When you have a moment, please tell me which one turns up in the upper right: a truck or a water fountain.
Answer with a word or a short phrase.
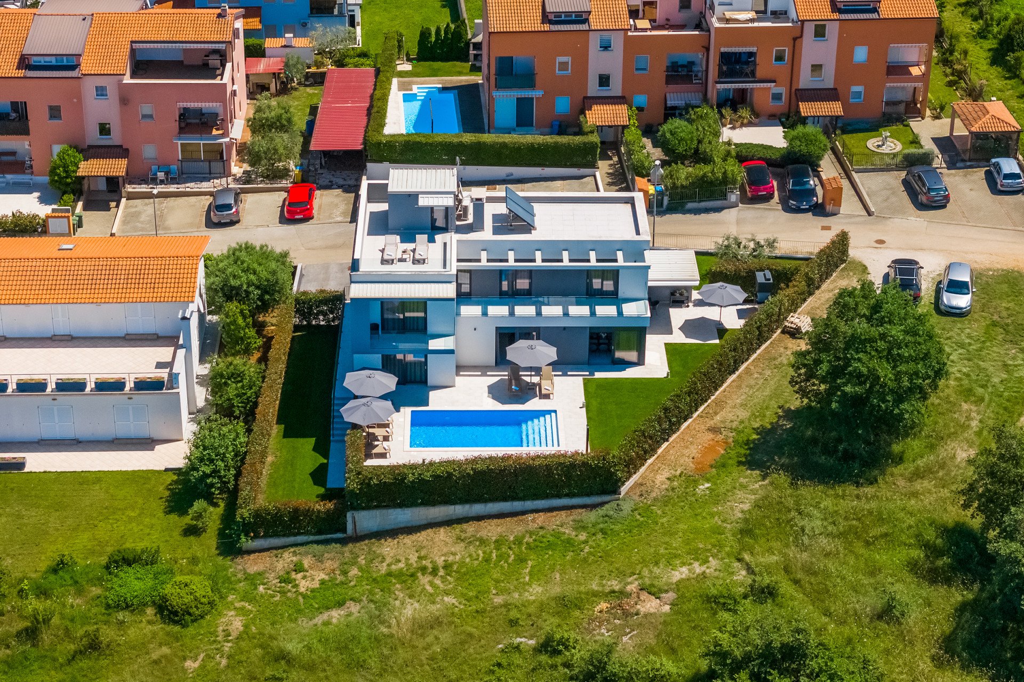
water fountain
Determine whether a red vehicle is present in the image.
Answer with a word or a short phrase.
Yes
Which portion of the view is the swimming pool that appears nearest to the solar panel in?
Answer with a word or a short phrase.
top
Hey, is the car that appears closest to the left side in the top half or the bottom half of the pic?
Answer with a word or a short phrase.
top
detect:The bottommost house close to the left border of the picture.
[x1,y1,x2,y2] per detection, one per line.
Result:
[0,234,207,444]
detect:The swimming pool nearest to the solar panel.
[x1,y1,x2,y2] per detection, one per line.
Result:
[392,82,492,134]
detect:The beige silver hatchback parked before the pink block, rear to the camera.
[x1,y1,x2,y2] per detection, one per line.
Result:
[209,184,243,220]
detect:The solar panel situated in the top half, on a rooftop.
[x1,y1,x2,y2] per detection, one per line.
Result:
[505,187,535,231]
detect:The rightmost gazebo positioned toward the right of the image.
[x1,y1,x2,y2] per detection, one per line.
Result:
[950,87,1021,169]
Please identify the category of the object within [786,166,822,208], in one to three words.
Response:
car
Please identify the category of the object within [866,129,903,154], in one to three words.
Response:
fountain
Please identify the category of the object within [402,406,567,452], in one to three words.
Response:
swimming pool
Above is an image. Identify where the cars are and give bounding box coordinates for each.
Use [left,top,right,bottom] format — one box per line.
[997,157,1024,189]
[743,163,776,198]
[786,166,822,208]
[283,182,317,217]
[911,168,956,205]
[209,184,243,220]
[890,260,927,306]
[940,265,976,314]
